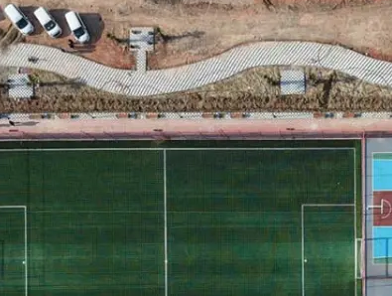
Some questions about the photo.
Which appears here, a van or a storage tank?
van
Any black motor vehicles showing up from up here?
No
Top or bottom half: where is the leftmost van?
top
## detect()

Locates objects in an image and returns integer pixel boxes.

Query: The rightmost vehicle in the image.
[62,9,91,44]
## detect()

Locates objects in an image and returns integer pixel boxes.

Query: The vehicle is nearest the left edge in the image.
[2,1,35,35]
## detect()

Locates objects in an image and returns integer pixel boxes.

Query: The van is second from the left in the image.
[31,5,63,38]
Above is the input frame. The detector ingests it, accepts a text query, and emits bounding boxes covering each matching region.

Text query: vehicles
[2,1,35,35]
[31,5,63,38]
[62,9,91,44]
